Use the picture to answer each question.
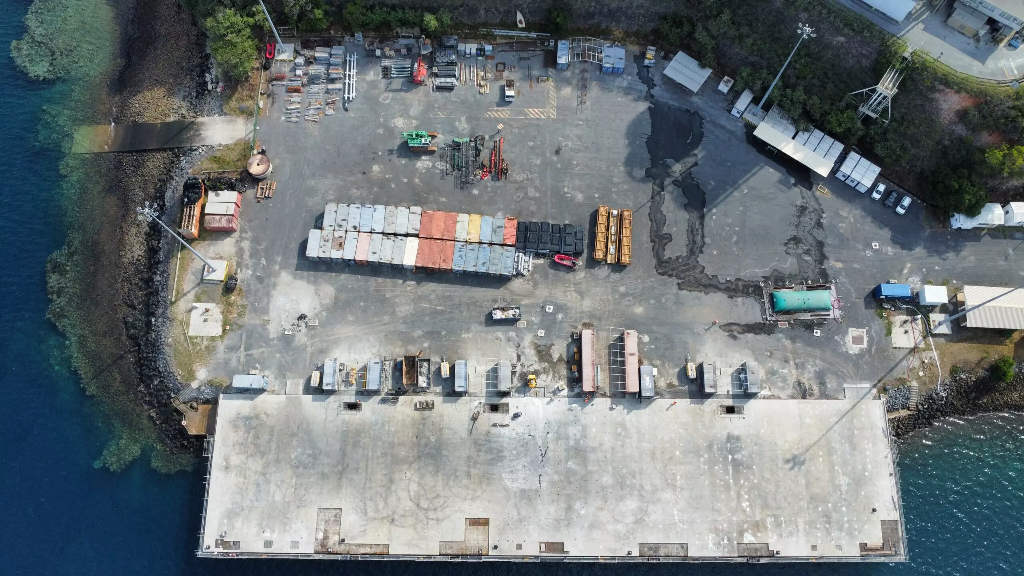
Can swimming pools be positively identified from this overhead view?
No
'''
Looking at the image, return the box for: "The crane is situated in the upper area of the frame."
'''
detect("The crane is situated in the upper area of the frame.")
[400,129,439,152]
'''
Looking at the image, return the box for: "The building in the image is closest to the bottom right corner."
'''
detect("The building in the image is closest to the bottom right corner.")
[951,287,1024,333]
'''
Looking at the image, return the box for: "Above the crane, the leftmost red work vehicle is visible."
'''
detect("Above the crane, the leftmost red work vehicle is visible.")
[405,31,433,86]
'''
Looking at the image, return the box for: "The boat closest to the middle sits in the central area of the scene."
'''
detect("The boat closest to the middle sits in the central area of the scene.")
[553,254,579,267]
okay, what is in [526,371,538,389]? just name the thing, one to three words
vehicle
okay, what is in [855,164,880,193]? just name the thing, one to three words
building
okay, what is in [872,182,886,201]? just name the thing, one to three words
car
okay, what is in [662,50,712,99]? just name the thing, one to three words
shed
